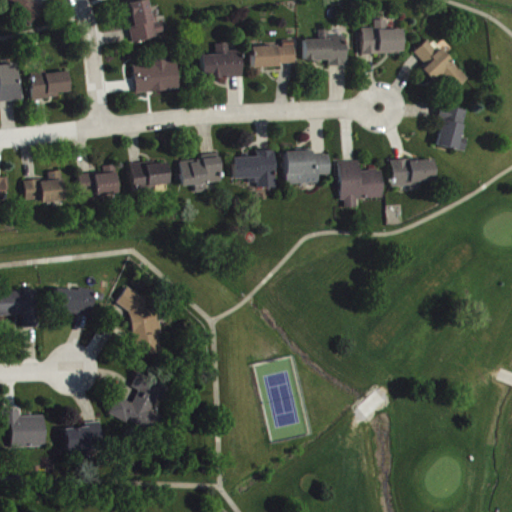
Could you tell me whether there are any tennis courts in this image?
Yes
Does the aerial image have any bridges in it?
Yes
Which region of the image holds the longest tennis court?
bottom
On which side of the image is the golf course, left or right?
right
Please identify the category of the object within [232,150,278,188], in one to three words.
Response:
house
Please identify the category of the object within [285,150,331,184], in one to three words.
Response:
house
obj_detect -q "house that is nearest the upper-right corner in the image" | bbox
[413,40,470,86]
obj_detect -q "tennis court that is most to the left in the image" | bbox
[252,354,312,444]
